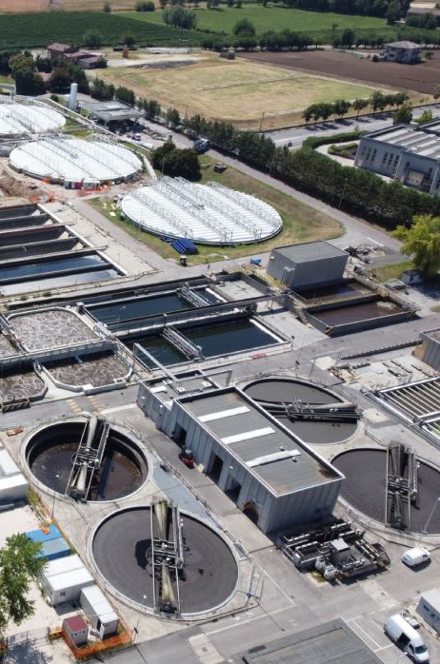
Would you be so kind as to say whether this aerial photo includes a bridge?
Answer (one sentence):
Yes, the frame does contain a bridge.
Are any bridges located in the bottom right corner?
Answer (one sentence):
Yes, there is a bridge in the bottom right corner.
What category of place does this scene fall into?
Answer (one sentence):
The area seen from above is an industrial area.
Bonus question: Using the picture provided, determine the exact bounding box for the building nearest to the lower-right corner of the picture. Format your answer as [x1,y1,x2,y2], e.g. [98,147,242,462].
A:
[417,589,440,631]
